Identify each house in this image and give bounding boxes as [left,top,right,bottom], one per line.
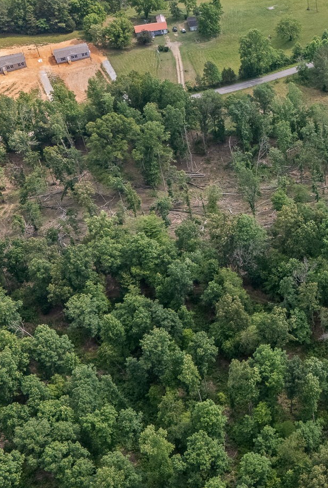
[0,54,28,75]
[135,15,167,36]
[52,44,91,64]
